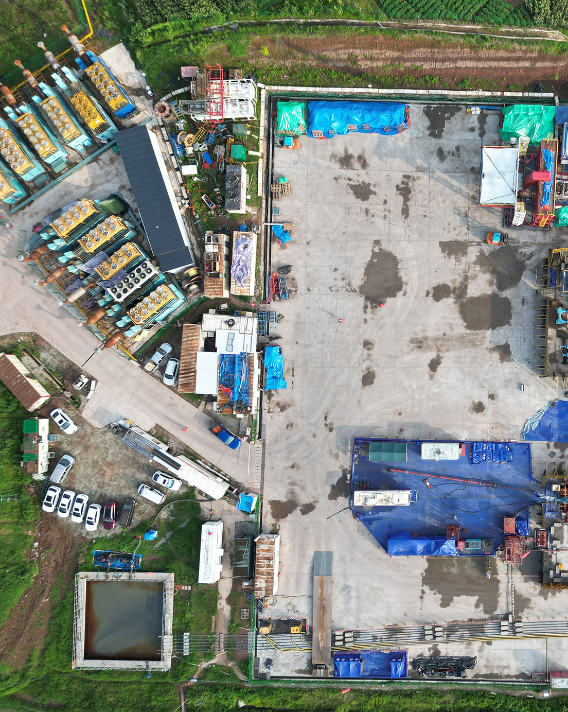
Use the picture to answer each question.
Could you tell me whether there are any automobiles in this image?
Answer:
Yes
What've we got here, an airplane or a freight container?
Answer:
freight container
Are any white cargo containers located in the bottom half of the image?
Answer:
Yes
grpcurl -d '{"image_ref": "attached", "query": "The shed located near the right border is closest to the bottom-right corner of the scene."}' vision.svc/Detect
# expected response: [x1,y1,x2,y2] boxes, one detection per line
[549,667,568,688]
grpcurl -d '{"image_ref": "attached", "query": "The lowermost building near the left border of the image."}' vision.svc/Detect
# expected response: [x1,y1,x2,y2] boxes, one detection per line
[22,418,50,474]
